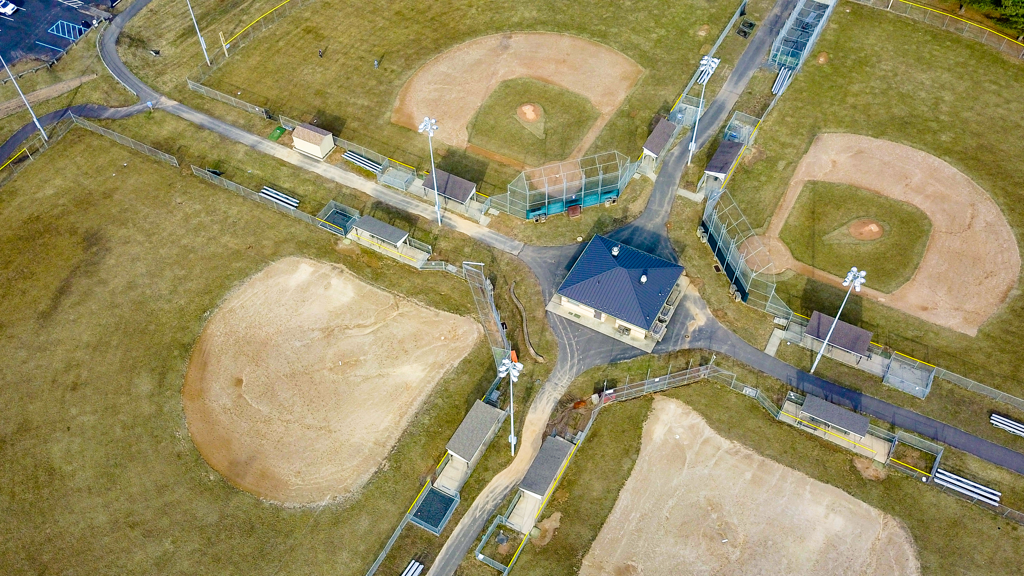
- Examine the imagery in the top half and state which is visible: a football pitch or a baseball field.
baseball field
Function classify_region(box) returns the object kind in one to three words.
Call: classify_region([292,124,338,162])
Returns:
shed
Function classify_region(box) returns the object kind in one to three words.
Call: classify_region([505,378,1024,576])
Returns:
baseball field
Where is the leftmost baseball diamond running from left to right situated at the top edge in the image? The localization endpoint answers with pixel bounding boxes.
[192,0,747,220]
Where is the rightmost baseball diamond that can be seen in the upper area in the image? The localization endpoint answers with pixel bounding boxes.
[701,1,1024,411]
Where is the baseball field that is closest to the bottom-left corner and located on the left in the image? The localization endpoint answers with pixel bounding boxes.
[0,122,510,576]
